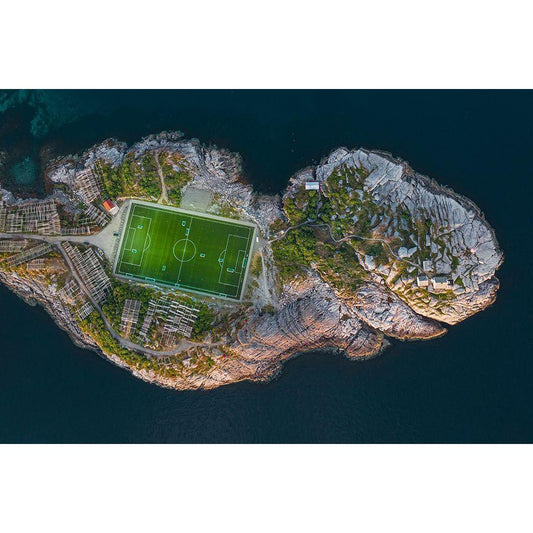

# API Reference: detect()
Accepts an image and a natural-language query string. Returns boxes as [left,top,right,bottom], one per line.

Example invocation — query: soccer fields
[114,199,257,301]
